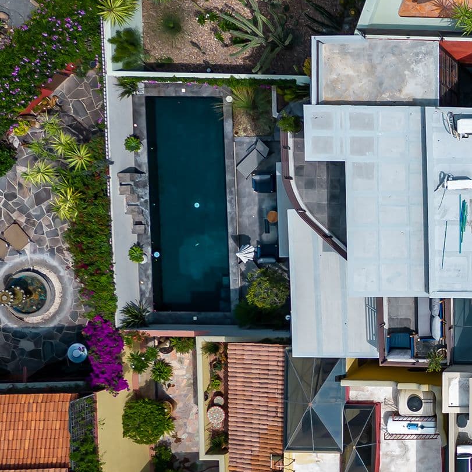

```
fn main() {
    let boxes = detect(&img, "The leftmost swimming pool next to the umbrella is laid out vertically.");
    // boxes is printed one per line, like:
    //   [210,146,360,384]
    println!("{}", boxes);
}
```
[147,97,229,312]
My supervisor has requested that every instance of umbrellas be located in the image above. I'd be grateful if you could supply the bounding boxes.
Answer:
[235,241,262,259]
